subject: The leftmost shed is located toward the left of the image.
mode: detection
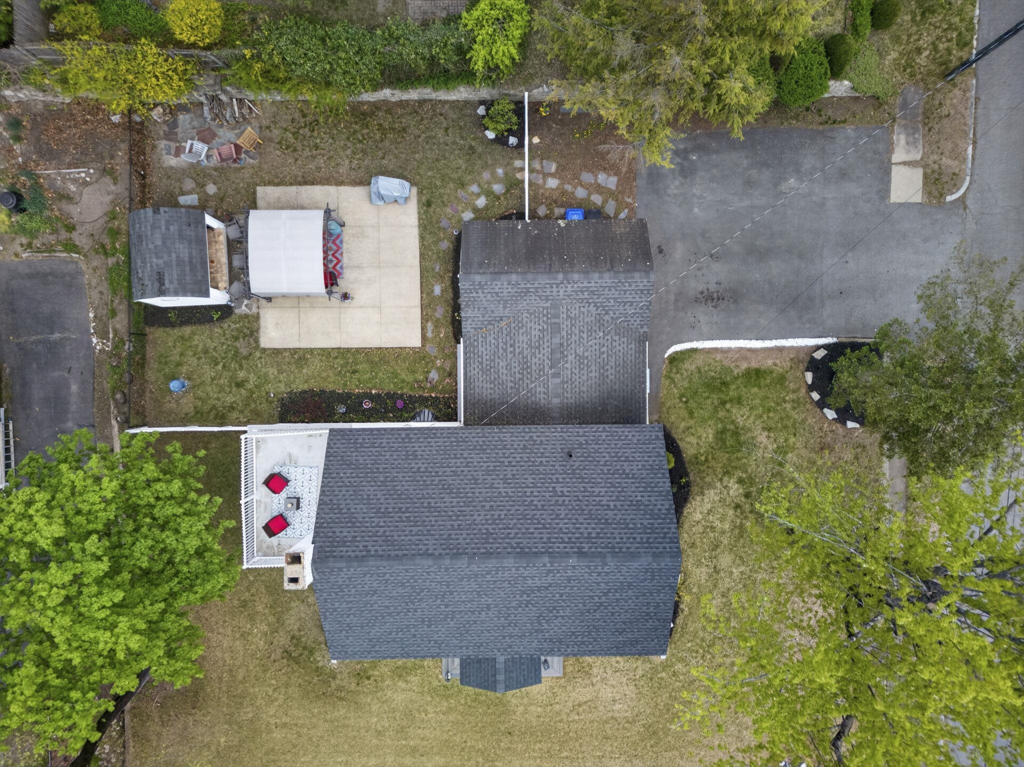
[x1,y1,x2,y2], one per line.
[130,207,231,306]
